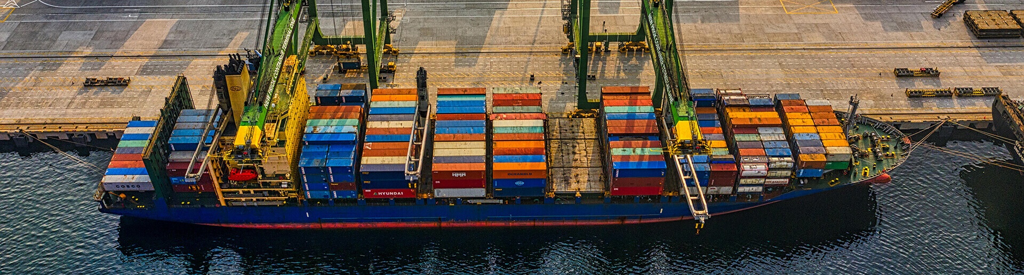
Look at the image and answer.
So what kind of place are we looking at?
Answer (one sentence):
The area seen from above is a port.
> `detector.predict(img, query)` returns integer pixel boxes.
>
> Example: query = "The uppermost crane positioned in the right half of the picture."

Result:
[561,0,730,157]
